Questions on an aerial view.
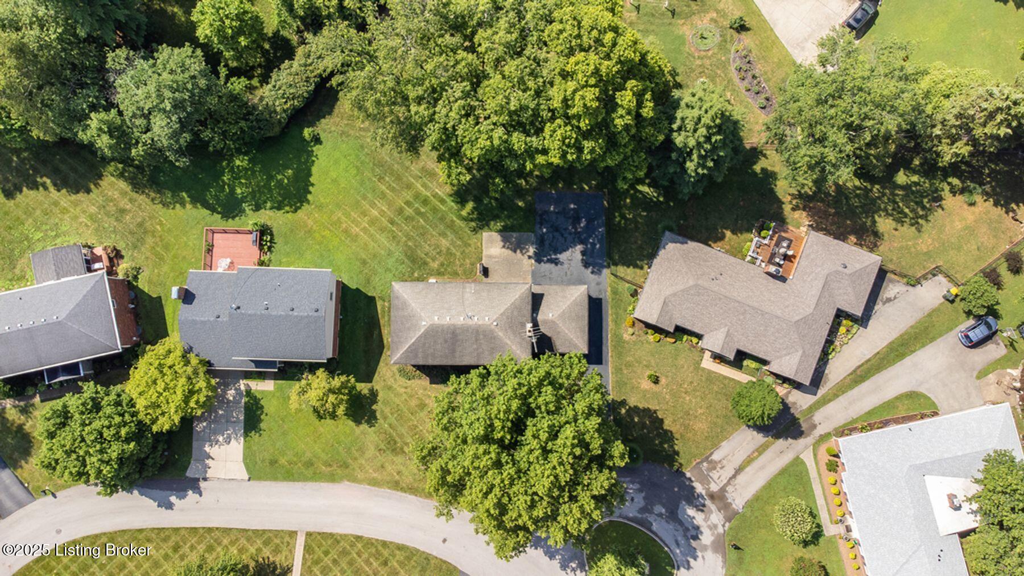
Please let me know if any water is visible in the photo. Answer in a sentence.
No, no water is visible.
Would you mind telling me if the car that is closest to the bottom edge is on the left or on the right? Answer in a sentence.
The car that is closest to the bottom edge is on the right side of the image.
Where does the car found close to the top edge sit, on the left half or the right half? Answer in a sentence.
The car found close to the top edge sits on the right side.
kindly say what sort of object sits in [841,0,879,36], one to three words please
car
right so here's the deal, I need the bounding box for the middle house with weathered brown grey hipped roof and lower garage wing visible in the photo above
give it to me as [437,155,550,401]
[390,281,589,365]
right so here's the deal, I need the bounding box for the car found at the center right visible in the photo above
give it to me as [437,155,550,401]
[955,317,999,349]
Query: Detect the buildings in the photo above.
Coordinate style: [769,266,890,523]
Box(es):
[0,270,140,386]
[171,265,341,371]
[633,230,883,386]
[390,281,589,365]
[833,399,1023,576]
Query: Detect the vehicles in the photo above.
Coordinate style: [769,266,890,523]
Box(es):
[841,0,879,36]
[955,317,999,349]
